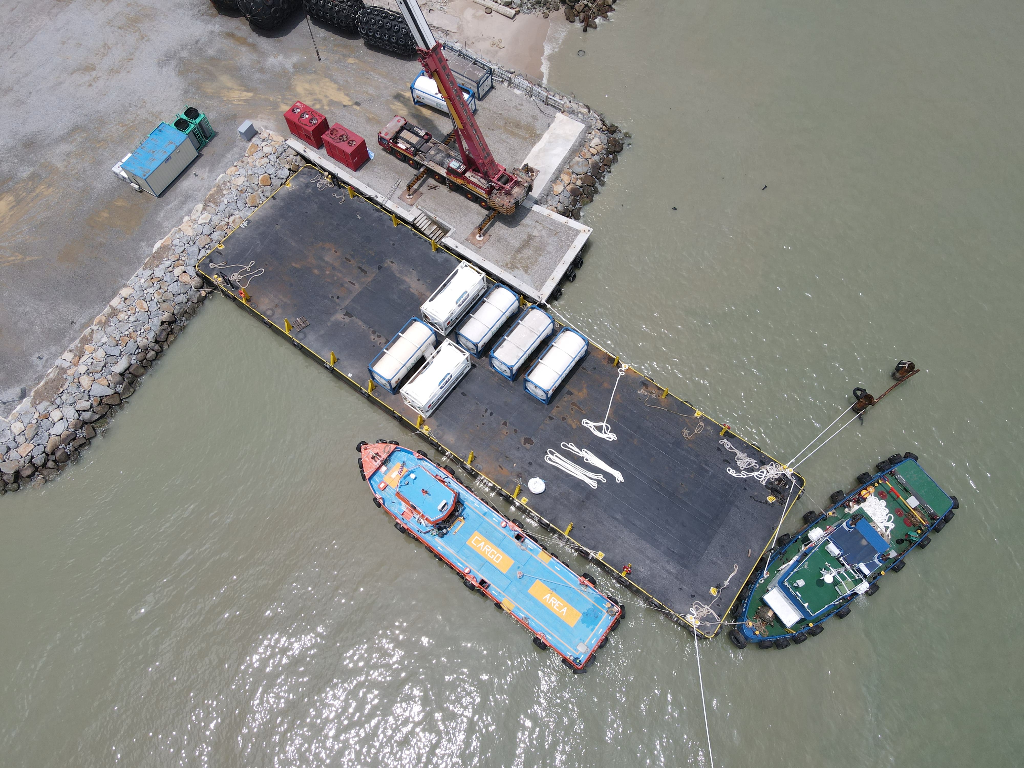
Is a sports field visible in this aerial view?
No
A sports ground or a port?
port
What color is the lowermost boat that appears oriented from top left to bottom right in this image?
blue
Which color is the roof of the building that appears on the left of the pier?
blue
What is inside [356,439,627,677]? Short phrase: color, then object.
blue boat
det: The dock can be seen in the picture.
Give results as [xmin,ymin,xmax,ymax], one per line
[285,91,593,308]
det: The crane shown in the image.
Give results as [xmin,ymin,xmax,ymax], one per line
[312,0,534,239]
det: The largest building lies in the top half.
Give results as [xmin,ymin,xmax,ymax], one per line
[118,123,197,197]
